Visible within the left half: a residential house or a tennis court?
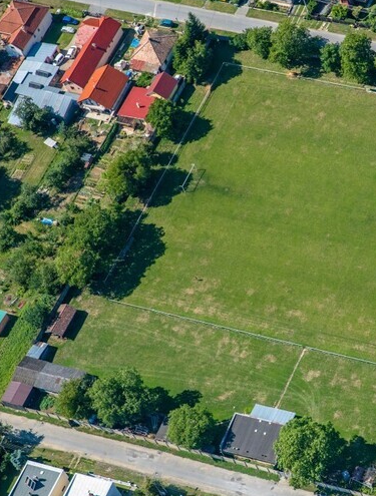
residential house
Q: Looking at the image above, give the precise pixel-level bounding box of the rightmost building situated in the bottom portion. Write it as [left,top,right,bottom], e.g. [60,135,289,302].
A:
[220,413,288,468]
